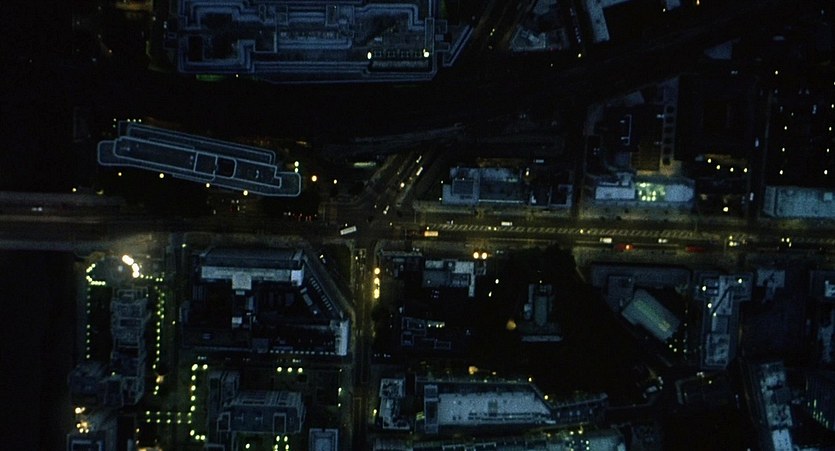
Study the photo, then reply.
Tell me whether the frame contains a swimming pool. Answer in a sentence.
No, no swimming pool is visible in the scene.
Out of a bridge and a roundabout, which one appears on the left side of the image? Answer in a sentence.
There is a bridge on the left side of the image.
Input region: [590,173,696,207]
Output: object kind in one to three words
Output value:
building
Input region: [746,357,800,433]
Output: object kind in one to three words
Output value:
building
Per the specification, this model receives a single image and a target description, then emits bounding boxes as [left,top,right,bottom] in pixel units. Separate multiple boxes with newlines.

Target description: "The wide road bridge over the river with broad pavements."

[0,190,86,248]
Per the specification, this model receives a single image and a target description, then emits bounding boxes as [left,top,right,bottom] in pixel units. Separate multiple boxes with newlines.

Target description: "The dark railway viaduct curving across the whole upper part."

[0,0,835,126]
